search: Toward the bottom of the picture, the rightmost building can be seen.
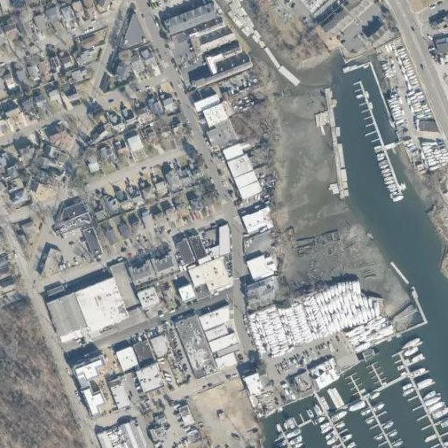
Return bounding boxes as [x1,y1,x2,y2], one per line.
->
[311,358,339,390]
